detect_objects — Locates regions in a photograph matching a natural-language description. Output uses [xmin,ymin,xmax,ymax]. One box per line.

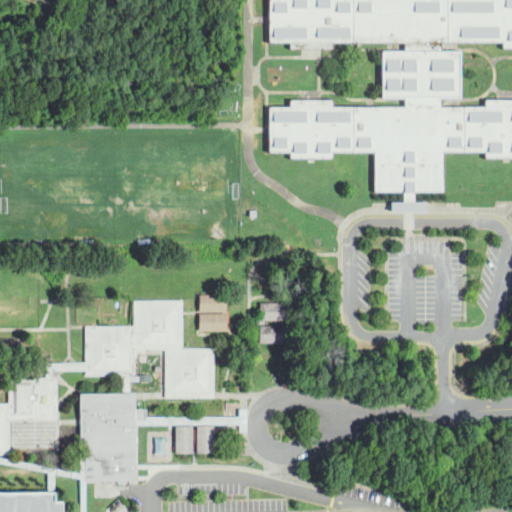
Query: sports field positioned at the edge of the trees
[0,130,238,241]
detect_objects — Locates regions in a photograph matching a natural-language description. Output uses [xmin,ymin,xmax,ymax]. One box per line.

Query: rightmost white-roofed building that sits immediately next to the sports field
[269,0,512,194]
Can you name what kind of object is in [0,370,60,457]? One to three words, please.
building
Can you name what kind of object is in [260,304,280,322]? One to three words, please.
house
